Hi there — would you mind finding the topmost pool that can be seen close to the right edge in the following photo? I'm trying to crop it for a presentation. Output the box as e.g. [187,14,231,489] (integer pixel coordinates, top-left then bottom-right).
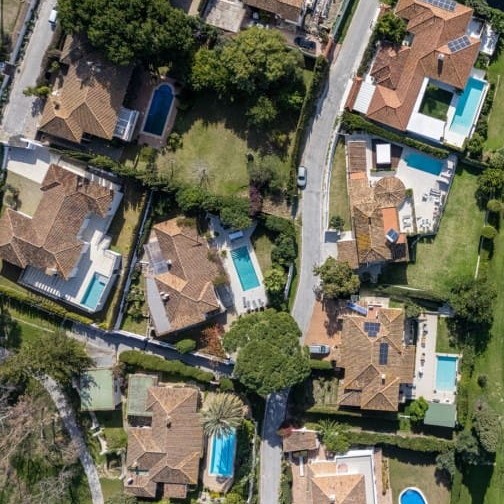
[448,76,488,139]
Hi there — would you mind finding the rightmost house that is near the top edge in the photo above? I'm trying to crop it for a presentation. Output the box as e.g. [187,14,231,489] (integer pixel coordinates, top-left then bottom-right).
[366,0,481,144]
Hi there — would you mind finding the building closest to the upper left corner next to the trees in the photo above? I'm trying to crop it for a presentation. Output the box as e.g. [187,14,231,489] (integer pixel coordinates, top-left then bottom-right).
[39,30,142,142]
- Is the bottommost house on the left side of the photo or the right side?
right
